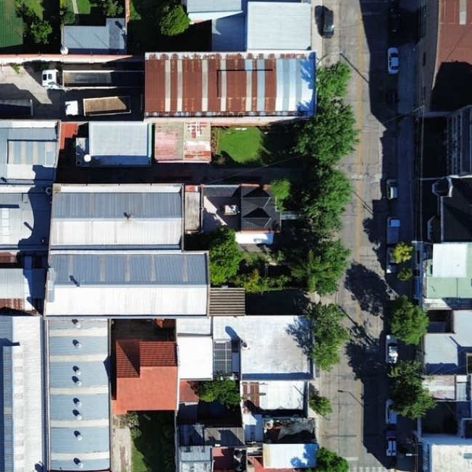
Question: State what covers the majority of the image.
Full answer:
Most of the picture is covered by buildings.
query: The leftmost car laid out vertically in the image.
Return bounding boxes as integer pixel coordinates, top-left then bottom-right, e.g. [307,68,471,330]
[321,7,335,36]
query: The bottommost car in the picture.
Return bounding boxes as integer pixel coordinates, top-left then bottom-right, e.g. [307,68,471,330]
[382,430,398,458]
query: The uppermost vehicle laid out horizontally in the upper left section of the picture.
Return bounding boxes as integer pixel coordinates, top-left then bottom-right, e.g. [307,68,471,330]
[44,69,143,88]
